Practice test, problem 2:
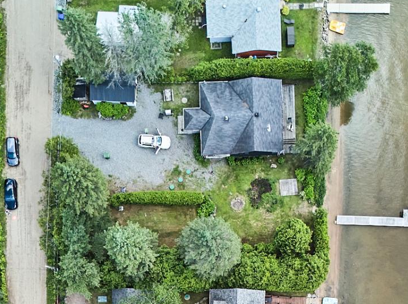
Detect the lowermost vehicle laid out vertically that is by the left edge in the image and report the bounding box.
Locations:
[2,177,17,209]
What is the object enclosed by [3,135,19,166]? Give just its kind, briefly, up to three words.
car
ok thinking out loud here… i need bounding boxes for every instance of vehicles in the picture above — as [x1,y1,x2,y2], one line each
[3,135,19,166]
[137,129,170,154]
[2,177,17,209]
